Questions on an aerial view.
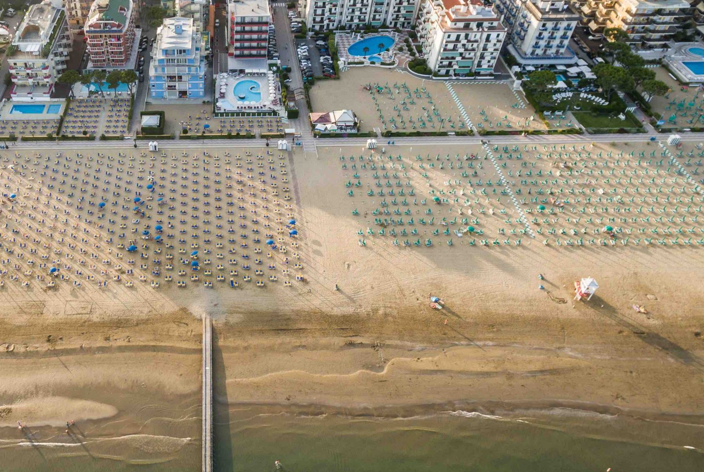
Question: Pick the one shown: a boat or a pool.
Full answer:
The one in the frame is a pool.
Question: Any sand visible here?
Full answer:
Yes, sand shows up in the scene.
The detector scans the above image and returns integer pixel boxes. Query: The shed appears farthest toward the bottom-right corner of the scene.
[569,277,601,305]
